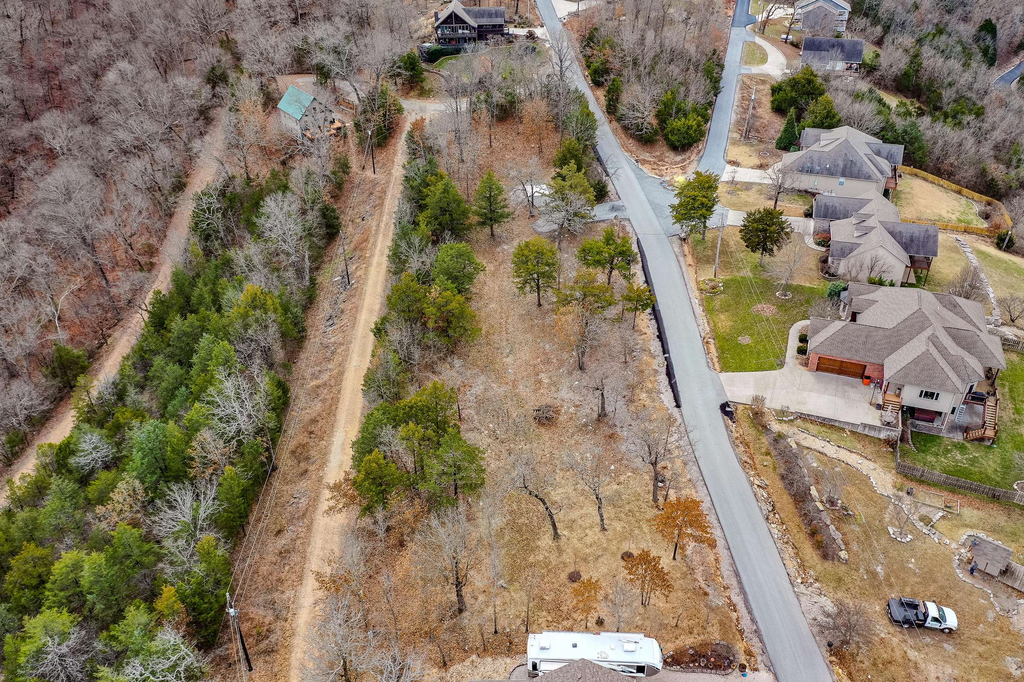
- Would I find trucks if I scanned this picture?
Yes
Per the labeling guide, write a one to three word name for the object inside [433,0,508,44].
house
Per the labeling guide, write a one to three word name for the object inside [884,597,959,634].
truck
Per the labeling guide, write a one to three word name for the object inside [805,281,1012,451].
house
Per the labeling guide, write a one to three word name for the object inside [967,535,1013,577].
shed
